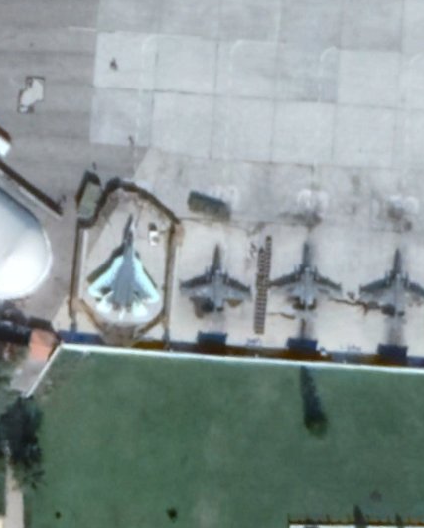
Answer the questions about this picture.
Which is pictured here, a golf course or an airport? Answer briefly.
airport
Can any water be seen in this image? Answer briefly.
No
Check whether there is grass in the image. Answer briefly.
Yes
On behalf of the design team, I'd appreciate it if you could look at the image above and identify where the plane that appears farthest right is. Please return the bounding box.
[361,252,424,317]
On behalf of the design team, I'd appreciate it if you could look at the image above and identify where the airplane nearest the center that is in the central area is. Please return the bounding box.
[181,244,253,314]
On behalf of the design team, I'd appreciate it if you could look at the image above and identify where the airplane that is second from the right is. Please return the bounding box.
[272,248,344,314]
